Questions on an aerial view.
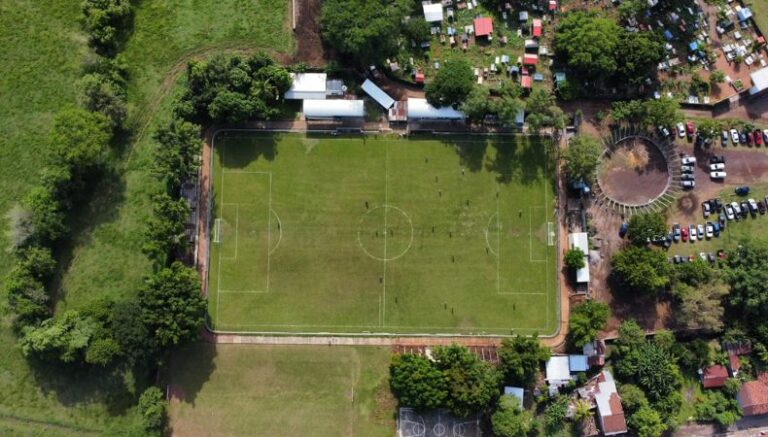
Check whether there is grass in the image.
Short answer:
Yes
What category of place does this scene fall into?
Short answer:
sports ground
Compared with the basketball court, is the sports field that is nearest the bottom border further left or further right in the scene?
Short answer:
left of it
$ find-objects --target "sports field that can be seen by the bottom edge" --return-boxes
[152,346,396,437]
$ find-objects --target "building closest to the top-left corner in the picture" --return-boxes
[284,73,327,102]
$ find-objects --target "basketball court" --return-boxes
[397,405,481,437]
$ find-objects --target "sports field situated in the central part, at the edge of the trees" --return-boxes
[206,130,558,337]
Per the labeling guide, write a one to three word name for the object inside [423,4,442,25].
building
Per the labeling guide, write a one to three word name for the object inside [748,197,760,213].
vehicle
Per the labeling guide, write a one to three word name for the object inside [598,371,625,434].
house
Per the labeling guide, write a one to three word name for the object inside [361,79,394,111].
shed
